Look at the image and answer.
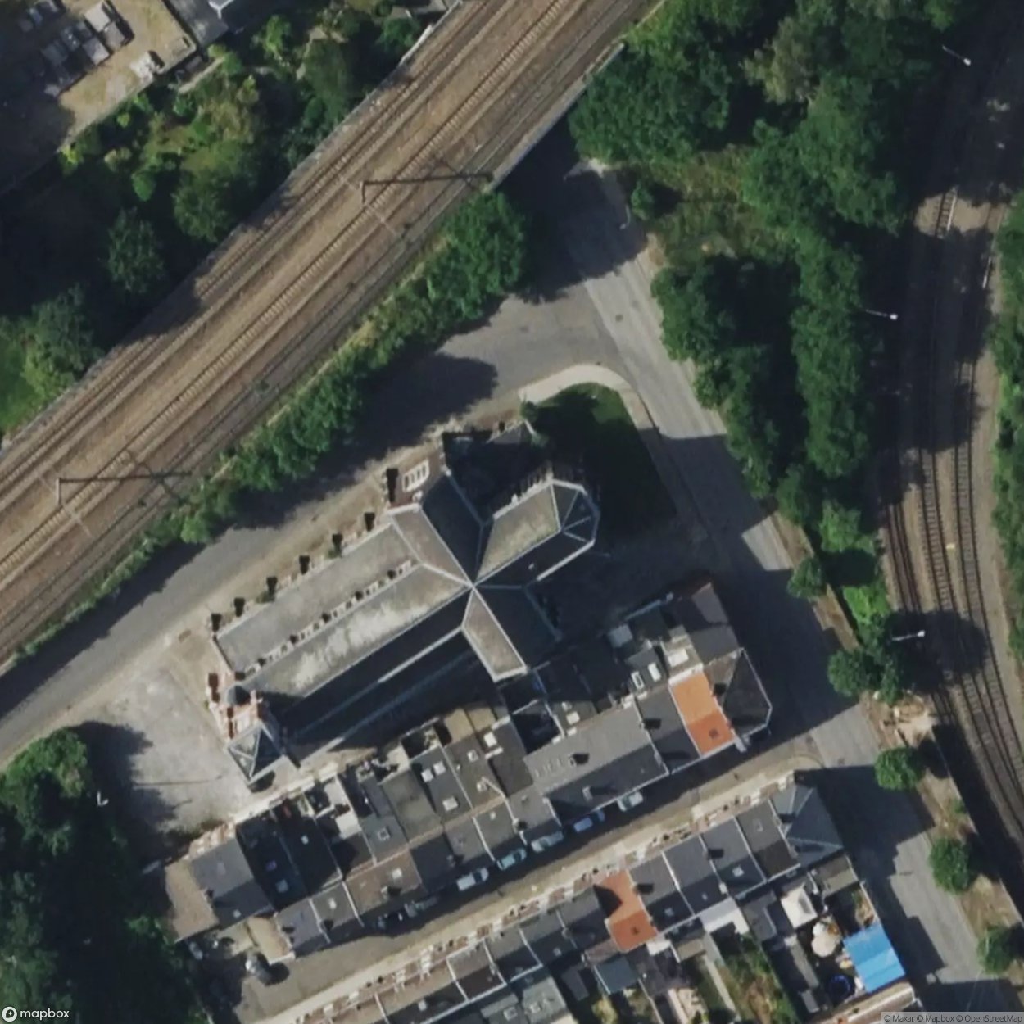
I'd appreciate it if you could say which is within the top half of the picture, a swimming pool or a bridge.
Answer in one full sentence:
You can see a bridge within the top half of the picture.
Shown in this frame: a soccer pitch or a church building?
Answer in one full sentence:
The image shows a church building.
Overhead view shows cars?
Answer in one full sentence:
Yes, there's a car down there.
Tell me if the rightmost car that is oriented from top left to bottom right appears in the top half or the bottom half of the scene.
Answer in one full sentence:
The bottom half of the photo is where the rightmost car that is oriented from top left to bottom right is.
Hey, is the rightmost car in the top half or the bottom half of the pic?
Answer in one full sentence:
You can find the rightmost car in the bottom half.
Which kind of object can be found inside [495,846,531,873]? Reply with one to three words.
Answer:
car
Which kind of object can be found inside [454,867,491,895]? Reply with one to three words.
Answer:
car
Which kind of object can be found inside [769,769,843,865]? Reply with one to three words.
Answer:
house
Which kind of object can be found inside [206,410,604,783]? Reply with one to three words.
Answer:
church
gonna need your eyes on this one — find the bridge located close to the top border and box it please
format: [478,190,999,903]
[494,40,634,195]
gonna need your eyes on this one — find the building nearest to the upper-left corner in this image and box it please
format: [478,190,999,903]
[175,0,227,43]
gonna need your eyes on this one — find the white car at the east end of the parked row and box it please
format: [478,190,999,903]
[613,789,648,815]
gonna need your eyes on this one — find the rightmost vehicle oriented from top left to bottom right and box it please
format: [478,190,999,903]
[244,949,274,985]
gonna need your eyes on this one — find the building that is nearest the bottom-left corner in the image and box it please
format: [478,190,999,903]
[166,849,219,941]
